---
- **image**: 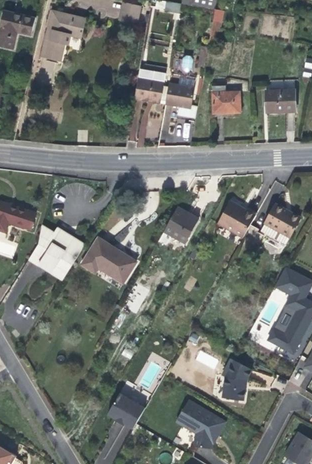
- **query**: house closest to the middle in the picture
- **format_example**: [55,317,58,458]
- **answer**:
[164,206,200,246]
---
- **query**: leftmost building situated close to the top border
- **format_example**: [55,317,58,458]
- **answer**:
[0,11,38,53]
